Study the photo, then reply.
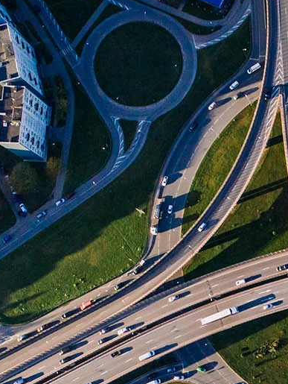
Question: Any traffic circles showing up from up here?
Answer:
Yes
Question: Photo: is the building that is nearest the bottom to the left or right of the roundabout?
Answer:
to its left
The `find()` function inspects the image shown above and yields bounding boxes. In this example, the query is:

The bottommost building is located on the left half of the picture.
[0,84,50,160]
